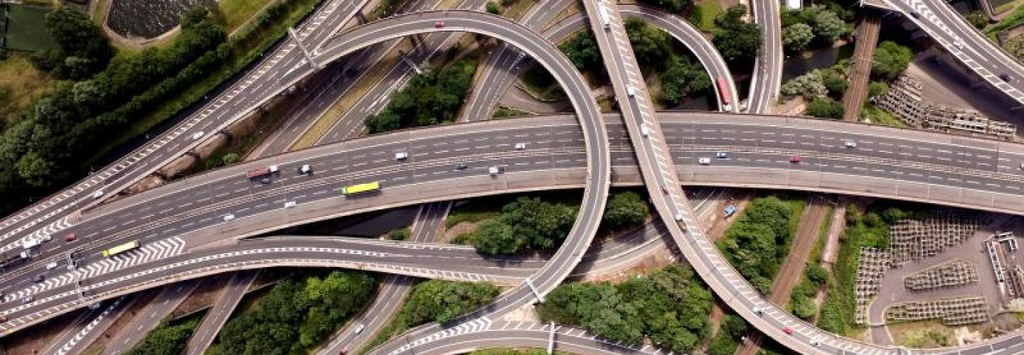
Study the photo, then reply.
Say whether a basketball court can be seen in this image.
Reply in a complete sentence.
No, I find no basketball court anywhere in the image.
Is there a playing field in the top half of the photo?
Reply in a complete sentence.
Yes, a playing field shows up in the top half of the photo.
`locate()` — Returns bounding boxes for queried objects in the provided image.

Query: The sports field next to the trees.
[3,2,53,50]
